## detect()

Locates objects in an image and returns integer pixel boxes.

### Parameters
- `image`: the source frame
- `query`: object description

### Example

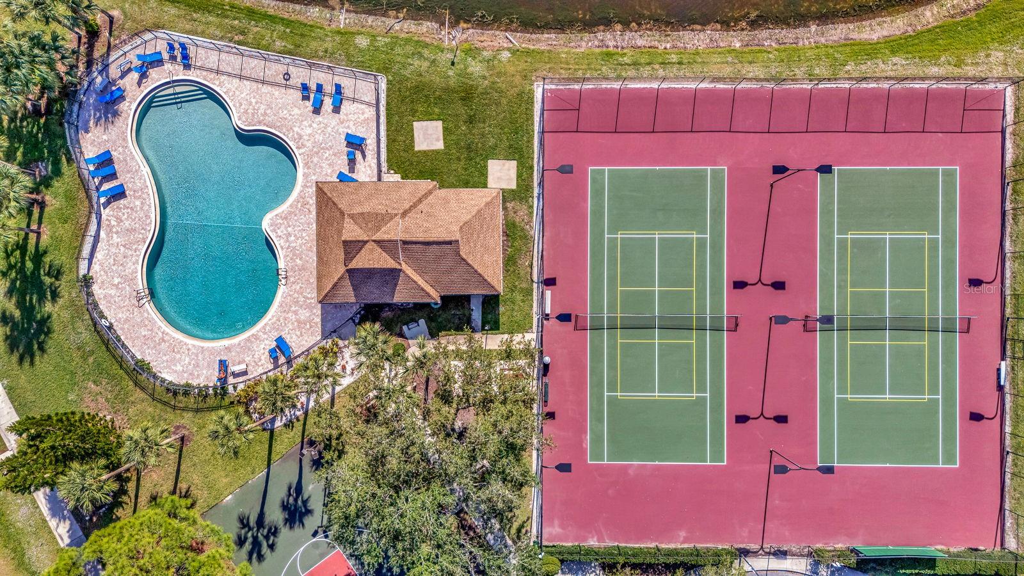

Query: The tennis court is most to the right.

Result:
[772,87,1004,547]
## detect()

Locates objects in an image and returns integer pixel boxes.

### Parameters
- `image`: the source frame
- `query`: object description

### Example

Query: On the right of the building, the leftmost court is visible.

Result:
[544,87,772,547]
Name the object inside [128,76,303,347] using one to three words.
swimming pool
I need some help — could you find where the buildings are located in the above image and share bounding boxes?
[315,181,503,304]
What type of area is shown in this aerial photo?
sports ground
